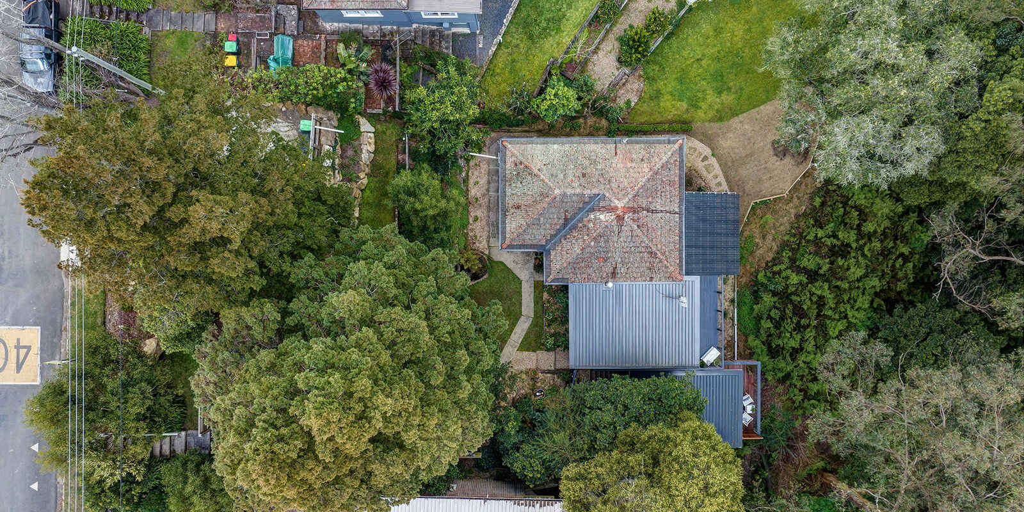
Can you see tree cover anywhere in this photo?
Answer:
Yes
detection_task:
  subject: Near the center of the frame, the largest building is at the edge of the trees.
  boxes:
[470,136,699,379]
